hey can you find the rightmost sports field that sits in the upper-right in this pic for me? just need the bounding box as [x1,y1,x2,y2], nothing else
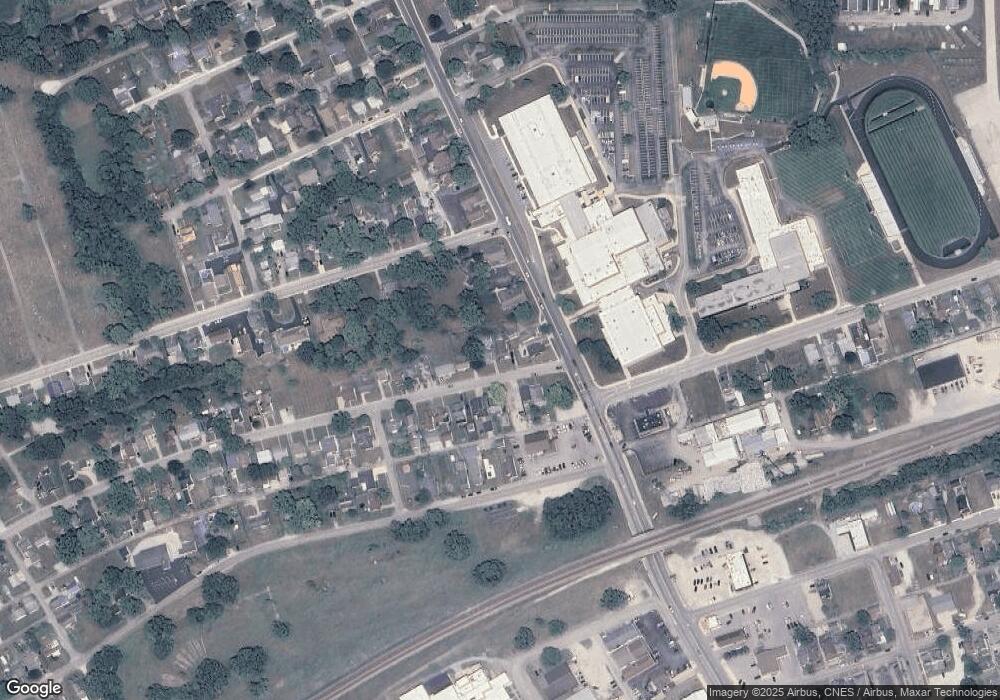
[866,85,980,260]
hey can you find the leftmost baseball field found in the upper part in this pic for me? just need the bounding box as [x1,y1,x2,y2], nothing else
[698,3,813,120]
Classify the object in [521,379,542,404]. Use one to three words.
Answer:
house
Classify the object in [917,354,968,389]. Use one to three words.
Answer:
building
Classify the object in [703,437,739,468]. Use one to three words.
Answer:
shed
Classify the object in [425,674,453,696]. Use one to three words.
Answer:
building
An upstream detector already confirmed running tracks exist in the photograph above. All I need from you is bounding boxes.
[826,76,998,268]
